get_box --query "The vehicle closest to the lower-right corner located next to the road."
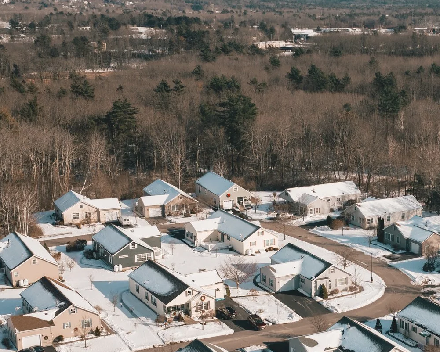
[246,310,263,327]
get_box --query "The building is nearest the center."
[193,172,249,209]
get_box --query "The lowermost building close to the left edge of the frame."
[6,276,102,350]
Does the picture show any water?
No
